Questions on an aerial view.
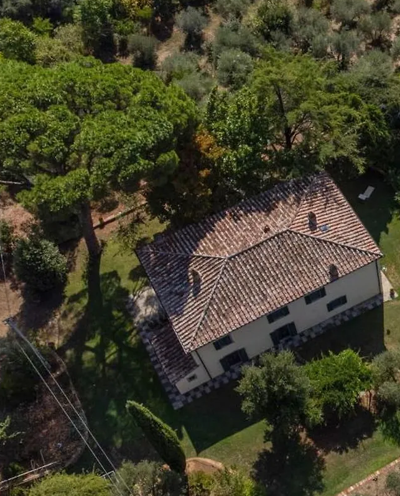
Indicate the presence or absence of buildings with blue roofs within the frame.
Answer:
No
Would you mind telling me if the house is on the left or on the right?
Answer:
right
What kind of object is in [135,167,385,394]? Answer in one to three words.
house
